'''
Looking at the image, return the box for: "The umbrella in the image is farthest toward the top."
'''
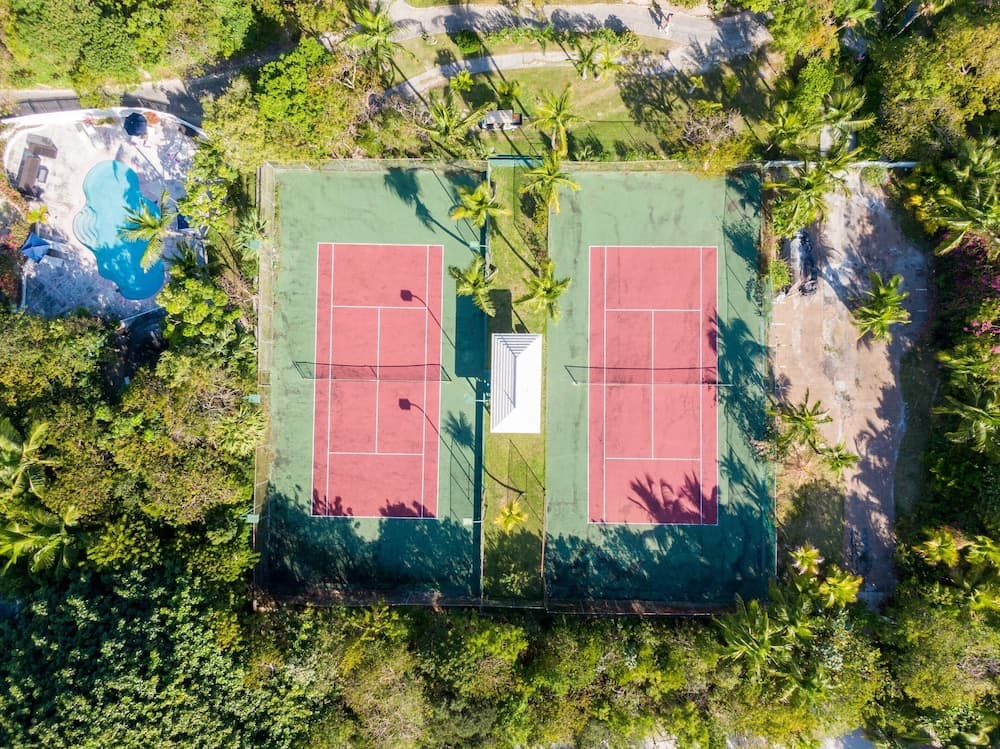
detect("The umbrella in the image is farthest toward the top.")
[124,112,152,139]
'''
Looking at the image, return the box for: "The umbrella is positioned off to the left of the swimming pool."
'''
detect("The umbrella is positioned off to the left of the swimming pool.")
[23,233,56,263]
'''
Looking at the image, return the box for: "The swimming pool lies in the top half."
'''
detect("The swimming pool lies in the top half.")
[71,156,168,302]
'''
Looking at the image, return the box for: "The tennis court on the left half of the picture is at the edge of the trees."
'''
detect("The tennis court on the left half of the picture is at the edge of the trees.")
[267,168,488,595]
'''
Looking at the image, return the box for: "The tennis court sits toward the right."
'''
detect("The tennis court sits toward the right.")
[545,171,769,599]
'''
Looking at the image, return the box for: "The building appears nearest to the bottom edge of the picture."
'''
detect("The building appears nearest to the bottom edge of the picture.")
[492,334,542,434]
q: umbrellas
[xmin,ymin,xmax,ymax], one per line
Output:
[176,212,195,229]
[124,112,152,139]
[23,233,56,263]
